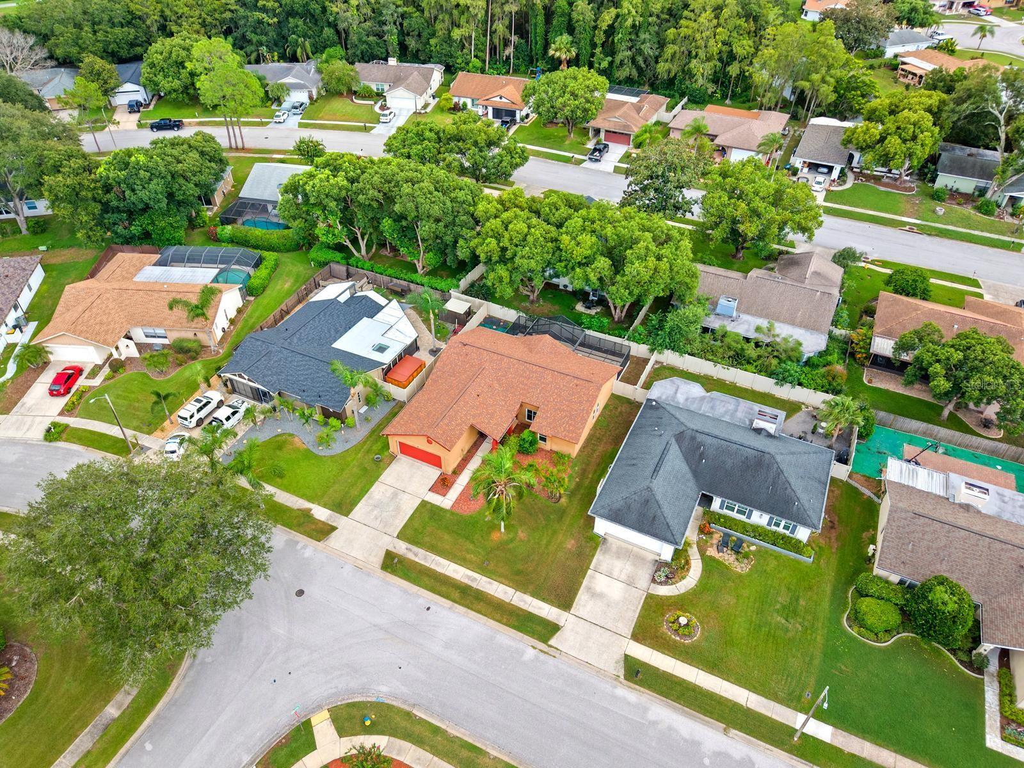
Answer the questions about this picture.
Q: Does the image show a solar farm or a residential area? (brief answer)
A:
residential area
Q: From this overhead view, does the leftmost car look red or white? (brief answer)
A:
red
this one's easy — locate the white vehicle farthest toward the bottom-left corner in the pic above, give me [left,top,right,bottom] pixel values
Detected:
[154,427,193,465]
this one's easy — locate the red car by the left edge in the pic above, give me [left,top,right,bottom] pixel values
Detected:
[46,366,81,397]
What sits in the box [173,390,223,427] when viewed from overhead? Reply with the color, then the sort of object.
white car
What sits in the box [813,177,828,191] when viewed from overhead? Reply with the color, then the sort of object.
white car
